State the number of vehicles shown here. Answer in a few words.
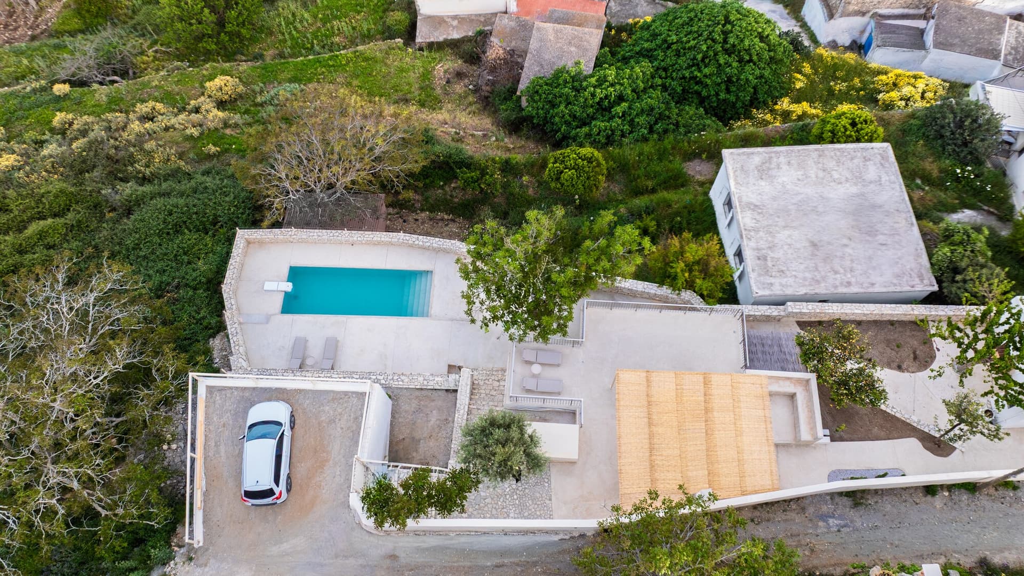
one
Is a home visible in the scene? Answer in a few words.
Yes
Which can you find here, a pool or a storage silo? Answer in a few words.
pool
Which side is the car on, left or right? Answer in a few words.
left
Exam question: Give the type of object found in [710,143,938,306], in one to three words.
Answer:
house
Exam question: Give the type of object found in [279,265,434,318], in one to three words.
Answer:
swimming pool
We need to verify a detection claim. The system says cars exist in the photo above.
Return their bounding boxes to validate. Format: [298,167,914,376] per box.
[240,405,294,510]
